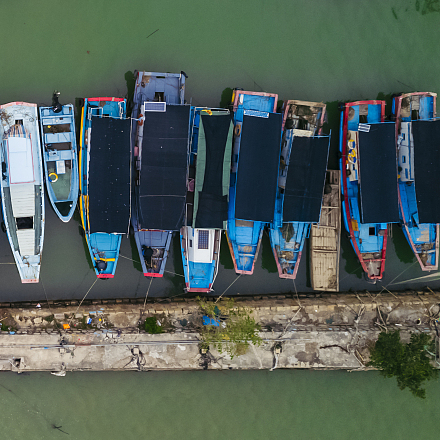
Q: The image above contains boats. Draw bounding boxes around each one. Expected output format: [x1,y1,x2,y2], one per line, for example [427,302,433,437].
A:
[39,97,79,218]
[0,102,45,283]
[332,101,400,278]
[180,106,234,292]
[269,99,331,277]
[388,92,440,270]
[130,71,190,277]
[226,89,282,273]
[77,97,131,278]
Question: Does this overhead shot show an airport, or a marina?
marina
